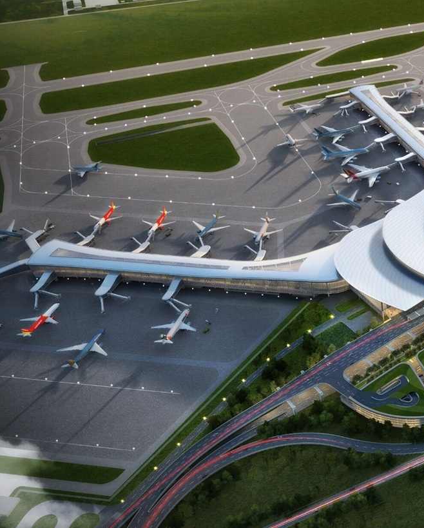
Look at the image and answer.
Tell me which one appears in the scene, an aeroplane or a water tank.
aeroplane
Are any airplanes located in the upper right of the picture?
Yes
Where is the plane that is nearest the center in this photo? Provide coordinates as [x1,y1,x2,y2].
[196,213,227,237]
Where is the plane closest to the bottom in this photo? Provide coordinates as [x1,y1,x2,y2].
[61,331,106,366]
